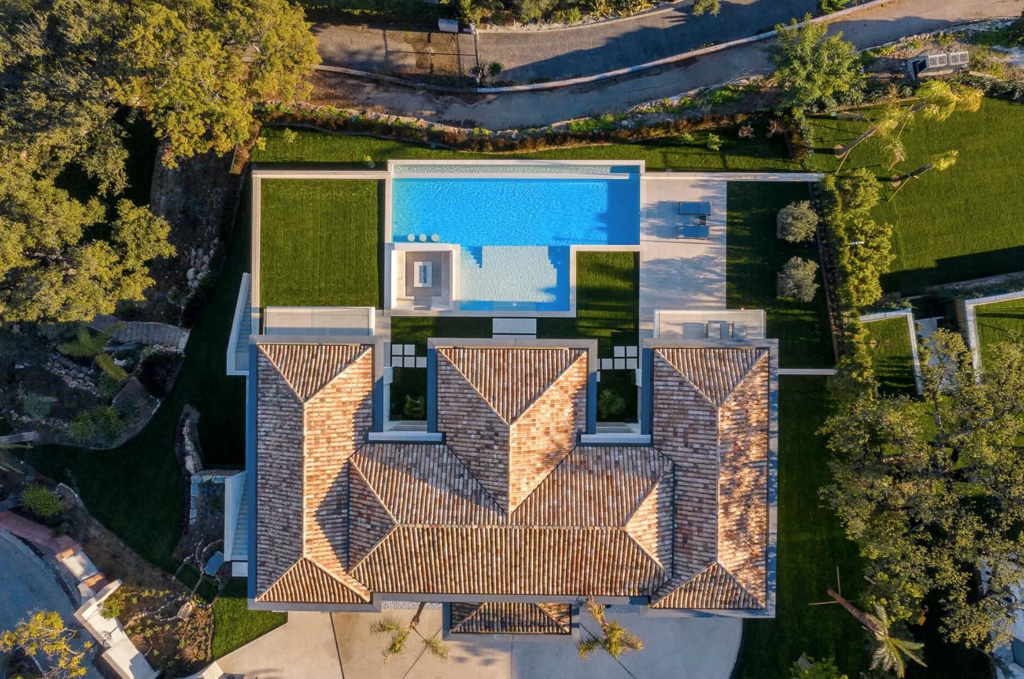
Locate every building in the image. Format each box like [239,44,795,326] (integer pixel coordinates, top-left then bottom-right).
[247,309,778,641]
